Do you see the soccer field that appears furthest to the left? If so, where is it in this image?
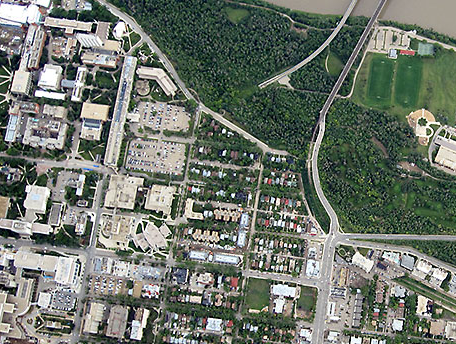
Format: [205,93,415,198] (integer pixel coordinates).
[368,58,393,98]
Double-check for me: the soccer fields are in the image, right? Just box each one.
[368,58,393,98]
[394,61,422,108]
